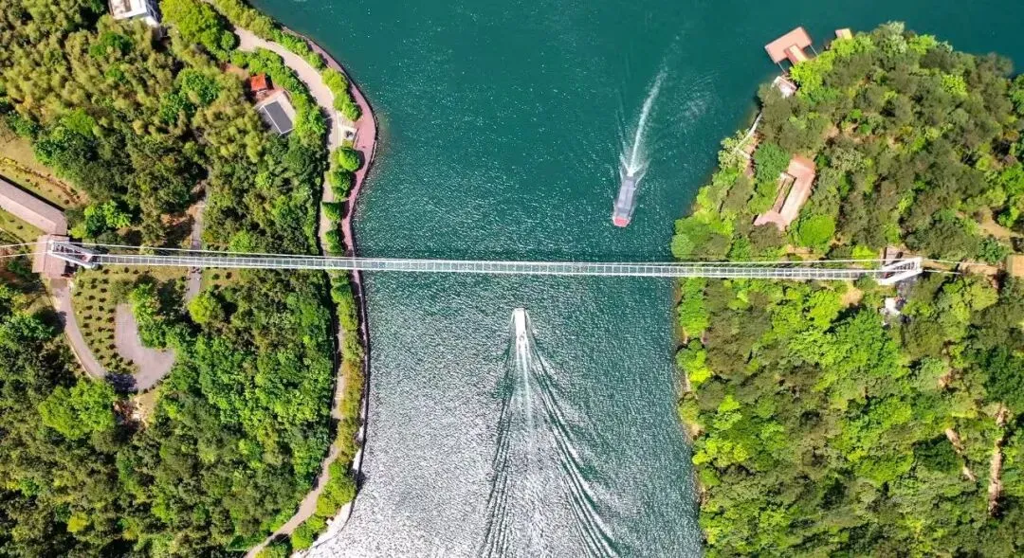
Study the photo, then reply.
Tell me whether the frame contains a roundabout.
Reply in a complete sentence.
No, no roundabout can be seen from above.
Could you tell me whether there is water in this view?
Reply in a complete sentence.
Yes, some water is visible.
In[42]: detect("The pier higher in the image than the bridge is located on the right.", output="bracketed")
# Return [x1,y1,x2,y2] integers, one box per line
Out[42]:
[764,28,820,73]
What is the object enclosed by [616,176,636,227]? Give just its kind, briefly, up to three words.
boat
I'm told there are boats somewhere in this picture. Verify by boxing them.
[616,176,636,227]
[516,308,525,333]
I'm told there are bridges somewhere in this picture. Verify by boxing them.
[0,240,991,288]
